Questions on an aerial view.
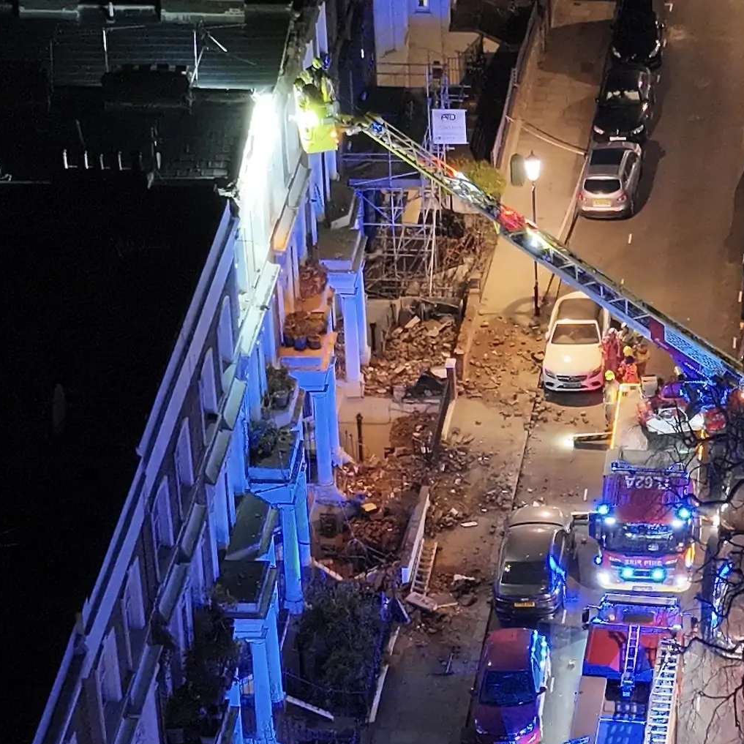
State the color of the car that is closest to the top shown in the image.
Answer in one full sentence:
From above, the car that is closest to the top appears black.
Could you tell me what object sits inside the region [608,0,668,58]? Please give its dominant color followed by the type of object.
black car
